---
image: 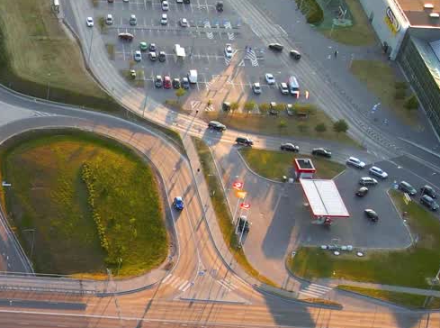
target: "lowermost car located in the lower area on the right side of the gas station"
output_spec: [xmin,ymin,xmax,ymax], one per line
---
[360,209,383,223]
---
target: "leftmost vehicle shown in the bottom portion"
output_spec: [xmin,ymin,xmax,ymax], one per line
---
[170,195,185,210]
